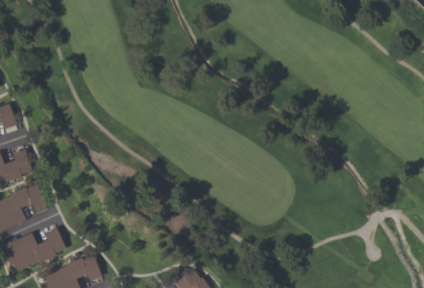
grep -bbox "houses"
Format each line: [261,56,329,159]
[0,104,18,134]
[0,150,32,183]
[38,257,103,288]
[8,228,66,272]
[175,270,211,288]
[0,186,46,232]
